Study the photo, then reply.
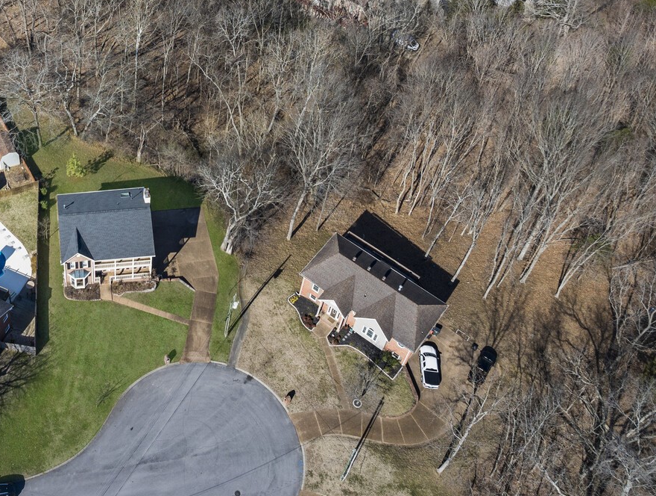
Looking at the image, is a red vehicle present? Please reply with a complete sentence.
No, this view has no red vehicle in it.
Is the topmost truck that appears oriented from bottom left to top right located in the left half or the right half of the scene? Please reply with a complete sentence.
You can find the topmost truck that appears oriented from bottom left to top right on the right side of the picture.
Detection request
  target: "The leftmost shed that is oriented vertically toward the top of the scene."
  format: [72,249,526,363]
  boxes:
[0,128,20,170]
